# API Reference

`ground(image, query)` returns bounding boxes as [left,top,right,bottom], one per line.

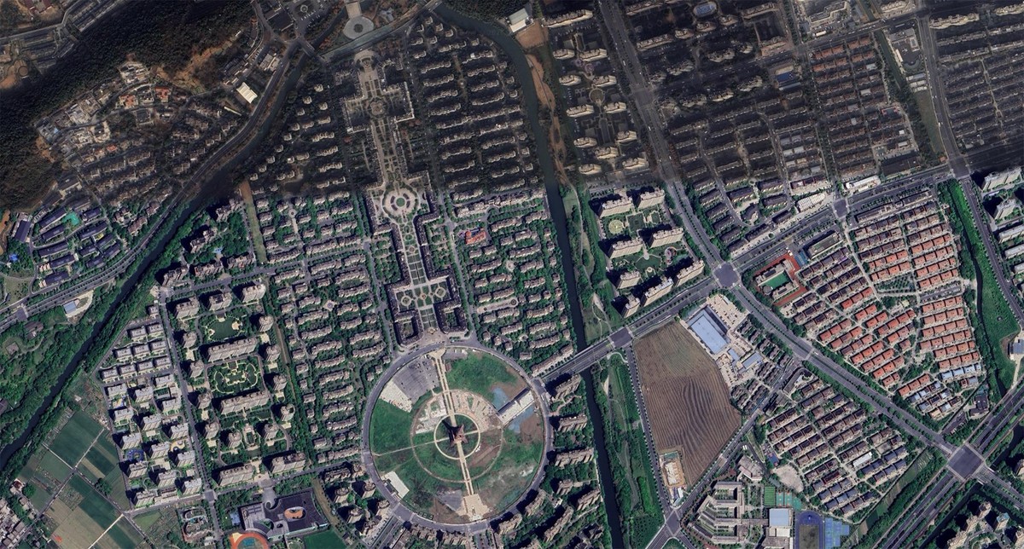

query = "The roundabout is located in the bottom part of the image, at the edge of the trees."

[362,342,552,531]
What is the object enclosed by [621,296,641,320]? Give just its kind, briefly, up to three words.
building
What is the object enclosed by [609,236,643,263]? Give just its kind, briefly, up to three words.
building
